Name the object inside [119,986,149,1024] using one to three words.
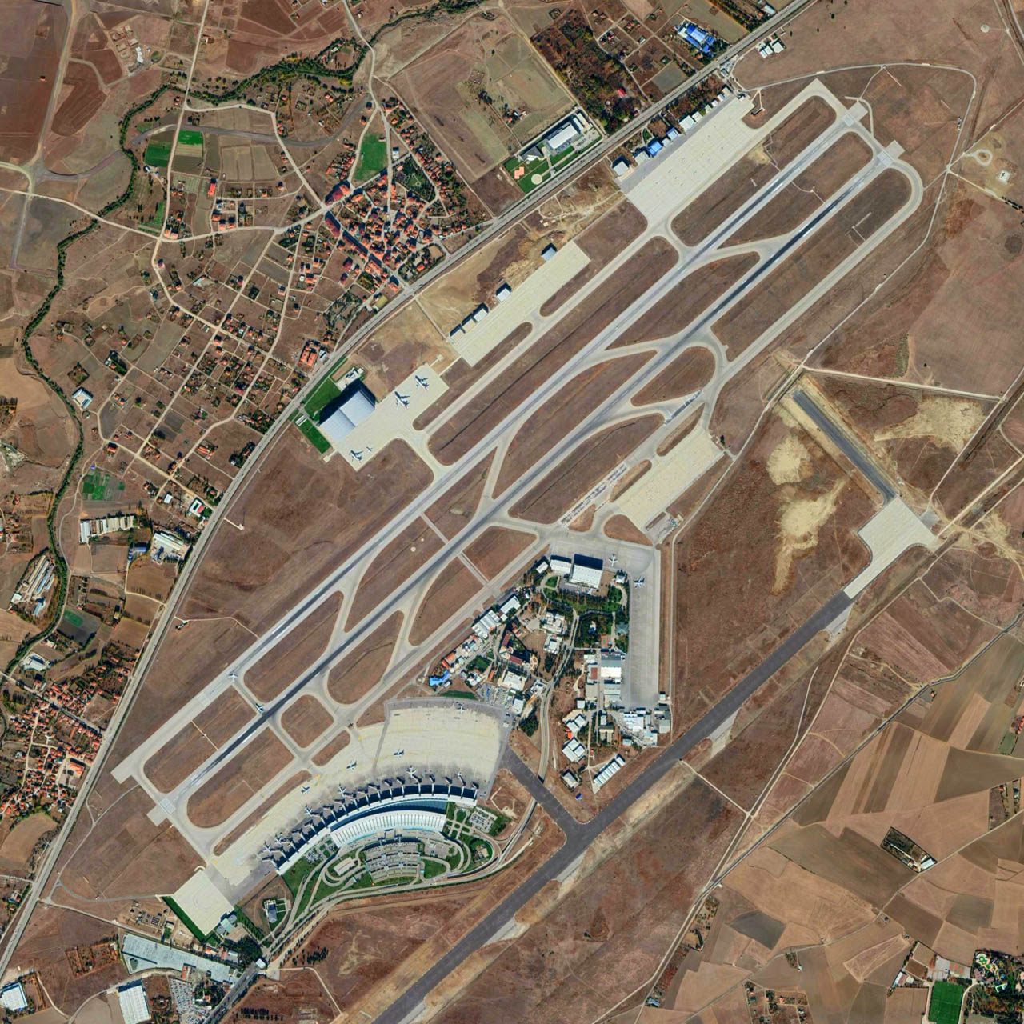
building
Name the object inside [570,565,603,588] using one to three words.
hangar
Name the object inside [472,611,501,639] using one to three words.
hangar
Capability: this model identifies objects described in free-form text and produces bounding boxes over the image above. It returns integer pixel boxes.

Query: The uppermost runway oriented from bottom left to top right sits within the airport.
[115,114,855,777]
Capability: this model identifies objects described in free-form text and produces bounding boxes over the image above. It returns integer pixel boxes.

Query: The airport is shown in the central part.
[112,79,938,1024]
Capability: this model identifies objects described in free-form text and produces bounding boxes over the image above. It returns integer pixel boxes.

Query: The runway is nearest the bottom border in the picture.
[373,590,852,1024]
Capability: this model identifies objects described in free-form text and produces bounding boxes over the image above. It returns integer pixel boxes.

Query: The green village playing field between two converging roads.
[354,138,387,180]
